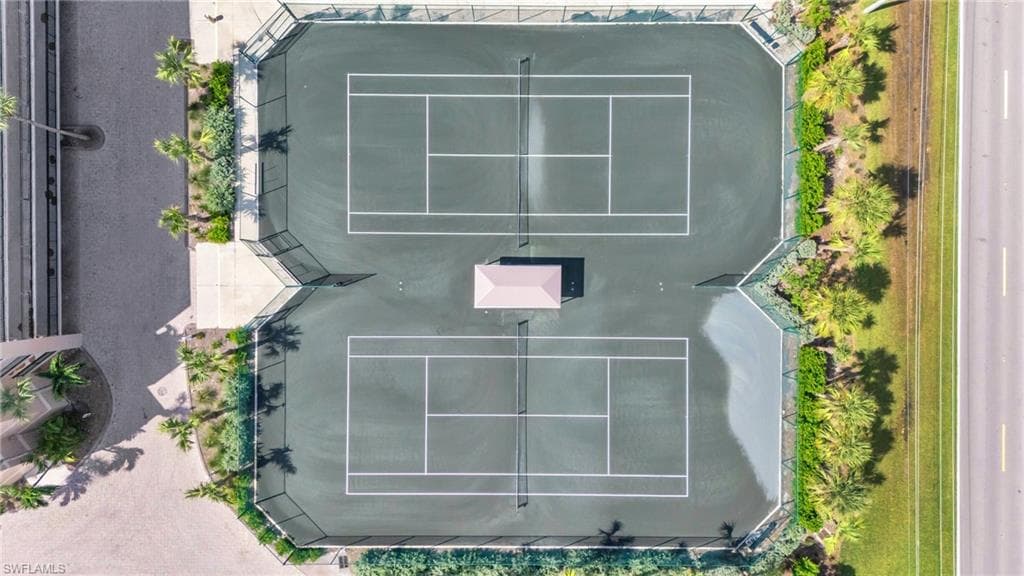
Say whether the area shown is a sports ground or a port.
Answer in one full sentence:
The picture captures a sports ground.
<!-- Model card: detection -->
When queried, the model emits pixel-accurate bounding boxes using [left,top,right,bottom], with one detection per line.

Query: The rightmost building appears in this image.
[474,264,562,309]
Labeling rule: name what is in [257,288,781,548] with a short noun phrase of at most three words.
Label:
tennis court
